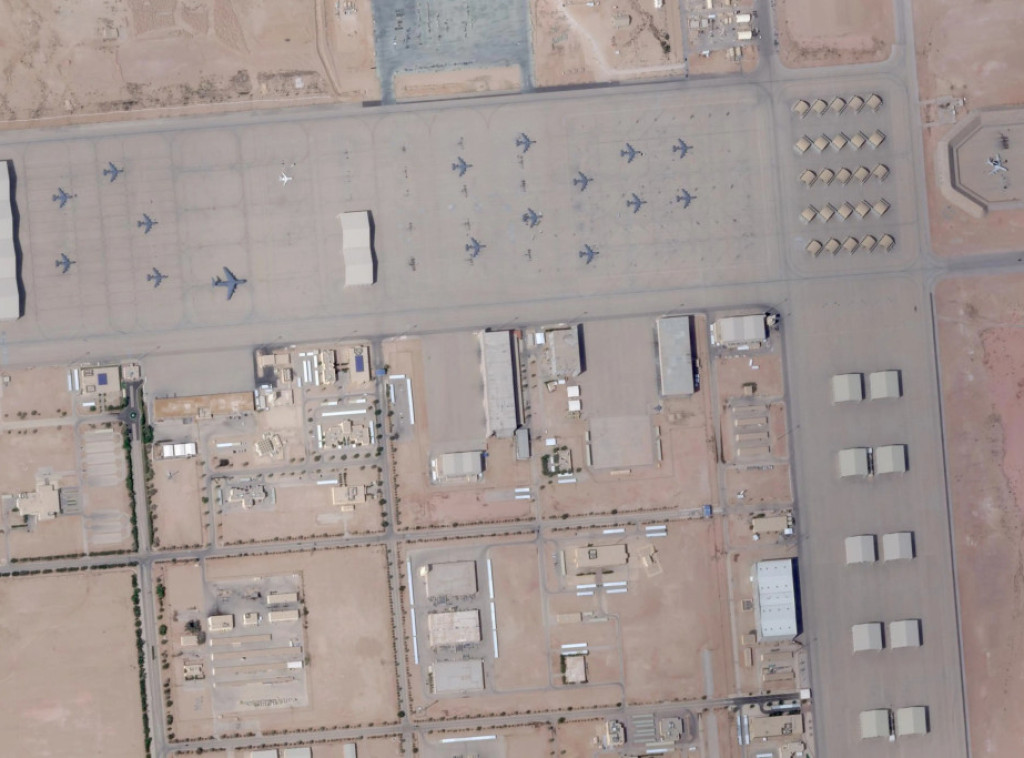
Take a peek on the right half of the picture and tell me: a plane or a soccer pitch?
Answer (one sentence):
Looking on the right half of the picture, you will find a plane.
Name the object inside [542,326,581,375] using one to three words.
hangar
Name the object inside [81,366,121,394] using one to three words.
building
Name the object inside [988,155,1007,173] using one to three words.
airplane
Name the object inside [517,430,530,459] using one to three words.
shed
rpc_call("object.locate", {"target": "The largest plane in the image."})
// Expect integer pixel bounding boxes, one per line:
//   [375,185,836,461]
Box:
[210,267,247,301]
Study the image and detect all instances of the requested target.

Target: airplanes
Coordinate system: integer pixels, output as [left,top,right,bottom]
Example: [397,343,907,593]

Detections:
[672,139,692,159]
[626,193,647,213]
[572,171,592,191]
[579,244,599,263]
[620,143,641,163]
[103,162,123,181]
[55,253,75,273]
[137,214,157,233]
[279,172,292,186]
[676,188,696,208]
[988,155,1007,173]
[522,207,542,227]
[147,267,167,287]
[451,157,472,176]
[210,267,247,301]
[465,237,485,256]
[515,133,536,152]
[52,188,72,207]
